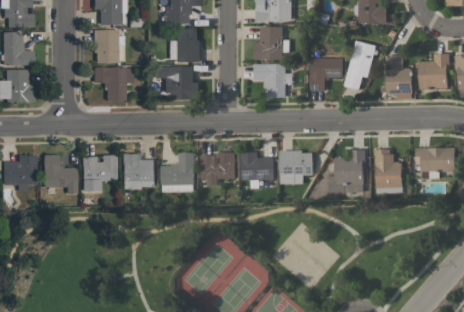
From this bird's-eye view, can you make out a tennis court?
Yes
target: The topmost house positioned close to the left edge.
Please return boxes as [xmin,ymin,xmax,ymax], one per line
[0,0,36,28]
